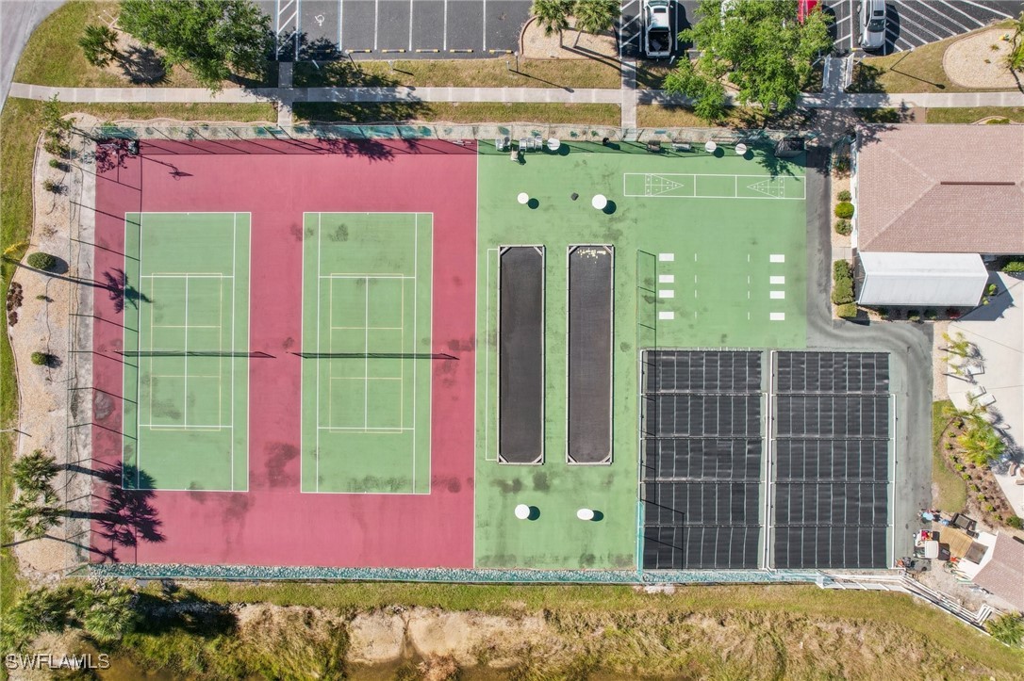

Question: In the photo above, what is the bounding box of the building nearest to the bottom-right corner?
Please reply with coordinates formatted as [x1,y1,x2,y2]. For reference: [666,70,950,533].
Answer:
[973,531,1024,605]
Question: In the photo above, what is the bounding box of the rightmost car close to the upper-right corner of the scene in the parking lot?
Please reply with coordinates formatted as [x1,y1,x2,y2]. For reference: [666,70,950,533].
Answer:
[859,0,889,51]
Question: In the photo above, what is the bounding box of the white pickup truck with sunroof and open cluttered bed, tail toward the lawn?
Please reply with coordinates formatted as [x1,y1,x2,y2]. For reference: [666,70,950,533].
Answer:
[642,0,672,59]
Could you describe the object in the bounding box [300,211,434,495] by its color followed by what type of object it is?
green tennis court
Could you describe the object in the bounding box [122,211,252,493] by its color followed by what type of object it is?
green tennis court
